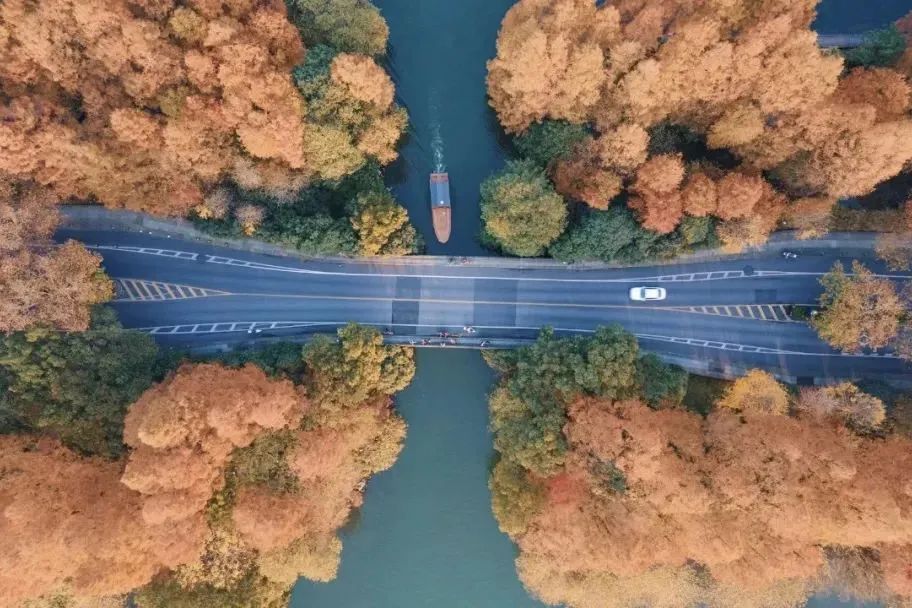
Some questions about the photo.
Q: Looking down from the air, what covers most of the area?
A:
trees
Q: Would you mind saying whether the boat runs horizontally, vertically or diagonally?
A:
vertically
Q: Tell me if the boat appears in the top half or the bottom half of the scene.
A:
top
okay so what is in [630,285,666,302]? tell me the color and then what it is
white car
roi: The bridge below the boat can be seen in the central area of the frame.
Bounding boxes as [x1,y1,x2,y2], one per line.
[395,256,510,351]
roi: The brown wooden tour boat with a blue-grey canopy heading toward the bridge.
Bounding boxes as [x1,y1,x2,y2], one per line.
[430,171,451,243]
